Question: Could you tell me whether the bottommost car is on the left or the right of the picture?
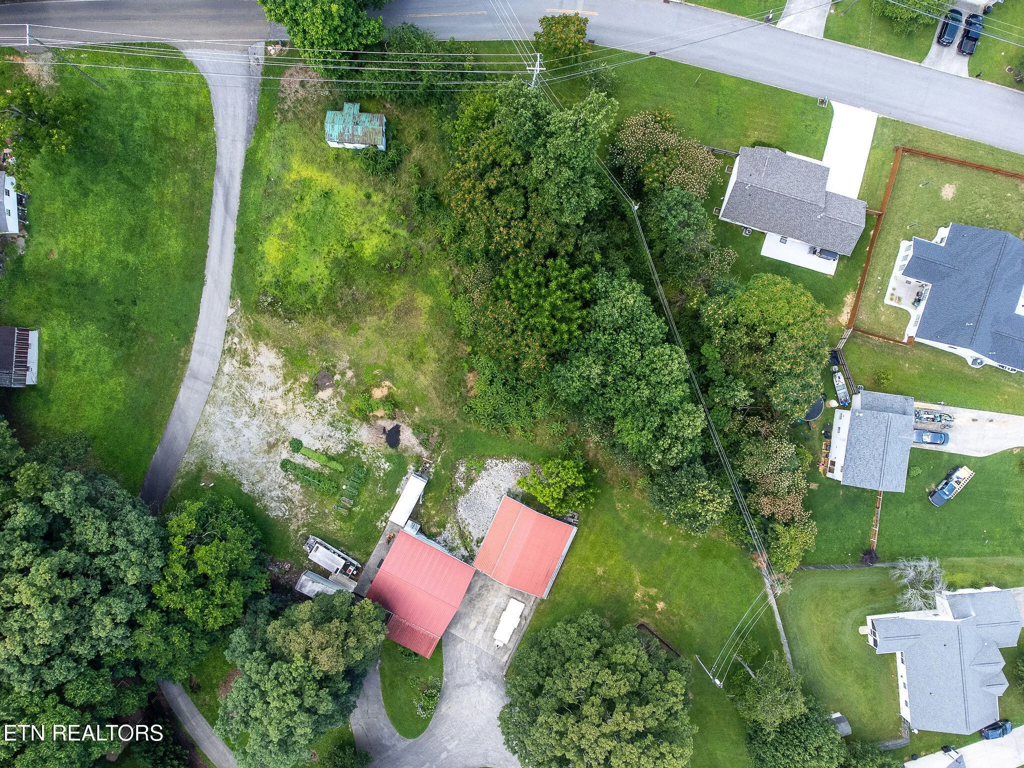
right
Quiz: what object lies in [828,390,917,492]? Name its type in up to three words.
house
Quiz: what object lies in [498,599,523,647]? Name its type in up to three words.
trailer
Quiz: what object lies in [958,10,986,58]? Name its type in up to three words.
truck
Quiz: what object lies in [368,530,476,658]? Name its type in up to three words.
barn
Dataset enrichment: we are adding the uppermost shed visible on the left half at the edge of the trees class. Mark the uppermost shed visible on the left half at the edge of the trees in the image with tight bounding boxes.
[324,102,386,149]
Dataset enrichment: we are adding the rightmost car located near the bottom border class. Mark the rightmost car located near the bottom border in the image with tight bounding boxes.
[978,718,1013,740]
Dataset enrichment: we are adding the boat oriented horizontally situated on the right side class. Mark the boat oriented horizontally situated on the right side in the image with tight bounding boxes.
[914,409,954,423]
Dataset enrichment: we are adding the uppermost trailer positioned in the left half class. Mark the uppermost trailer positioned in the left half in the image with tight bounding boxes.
[387,469,430,530]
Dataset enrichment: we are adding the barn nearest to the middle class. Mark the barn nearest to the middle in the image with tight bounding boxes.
[473,494,579,599]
